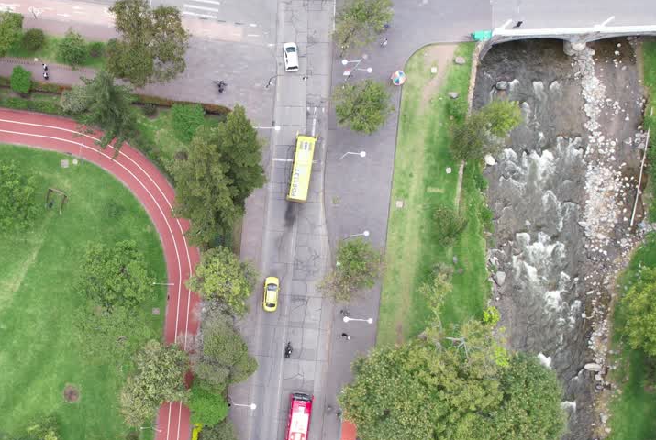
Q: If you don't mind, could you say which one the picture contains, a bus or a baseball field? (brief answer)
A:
bus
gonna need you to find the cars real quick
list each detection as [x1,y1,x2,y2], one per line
[263,276,280,312]
[282,42,298,73]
